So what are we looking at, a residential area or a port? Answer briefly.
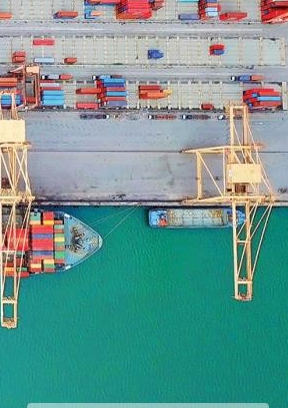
port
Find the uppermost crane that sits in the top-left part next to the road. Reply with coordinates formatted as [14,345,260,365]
[10,63,39,111]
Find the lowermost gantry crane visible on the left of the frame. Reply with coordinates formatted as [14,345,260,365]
[0,91,38,330]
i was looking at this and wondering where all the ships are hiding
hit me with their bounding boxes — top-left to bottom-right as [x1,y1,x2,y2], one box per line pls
[3,207,103,276]
[148,208,246,227]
